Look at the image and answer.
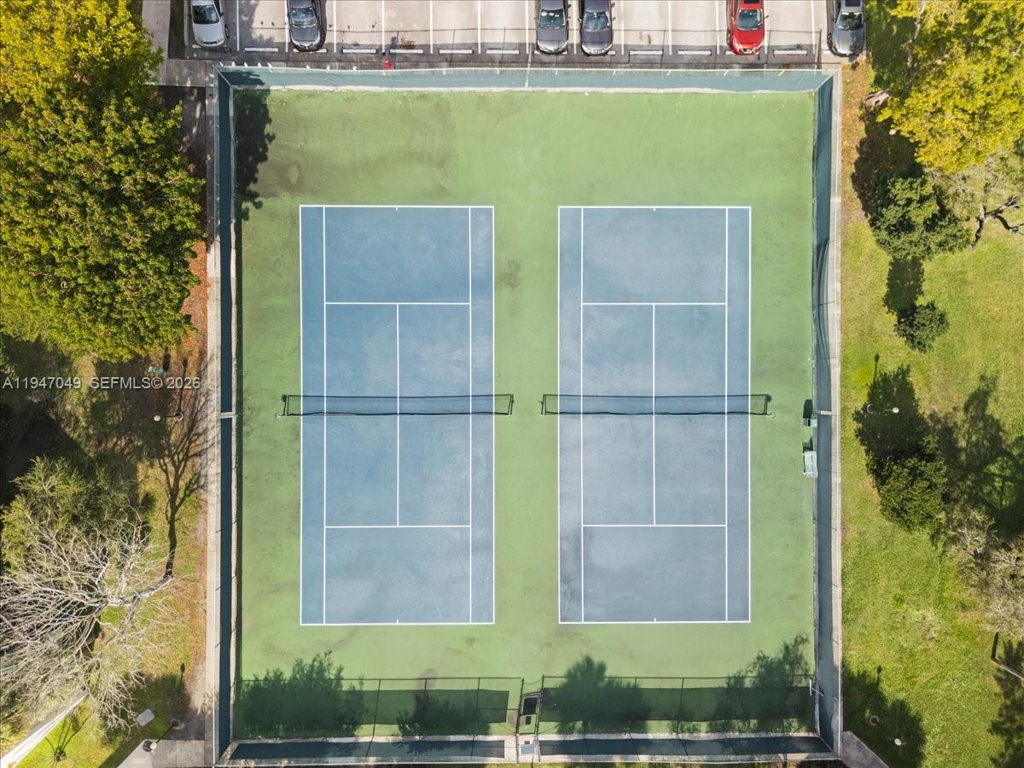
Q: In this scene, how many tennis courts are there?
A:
2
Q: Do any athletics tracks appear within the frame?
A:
No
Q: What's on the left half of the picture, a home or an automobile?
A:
automobile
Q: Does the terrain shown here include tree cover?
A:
Yes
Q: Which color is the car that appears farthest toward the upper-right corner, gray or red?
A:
gray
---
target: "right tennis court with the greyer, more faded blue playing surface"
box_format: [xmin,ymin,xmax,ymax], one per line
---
[559,206,750,624]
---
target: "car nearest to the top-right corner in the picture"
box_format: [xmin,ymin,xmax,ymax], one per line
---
[827,0,872,59]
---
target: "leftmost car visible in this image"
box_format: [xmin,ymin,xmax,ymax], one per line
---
[187,0,229,50]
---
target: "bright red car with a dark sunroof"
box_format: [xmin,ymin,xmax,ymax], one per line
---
[727,0,770,57]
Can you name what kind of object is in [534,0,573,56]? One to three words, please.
car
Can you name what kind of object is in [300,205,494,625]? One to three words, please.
tennis court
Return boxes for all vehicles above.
[579,0,618,57]
[187,0,229,50]
[727,0,770,57]
[534,0,573,56]
[827,0,872,59]
[283,0,323,53]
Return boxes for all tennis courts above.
[300,205,494,625]
[559,206,750,624]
